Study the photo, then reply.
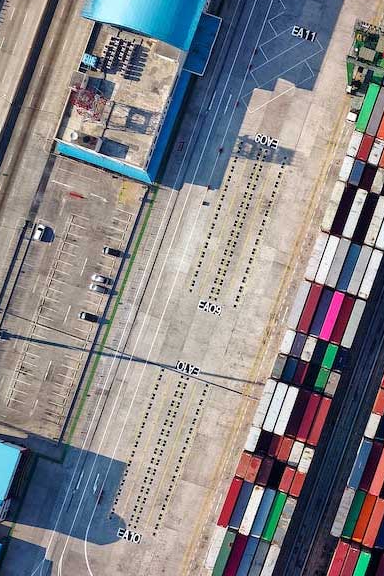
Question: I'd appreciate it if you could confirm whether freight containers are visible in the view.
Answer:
Yes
